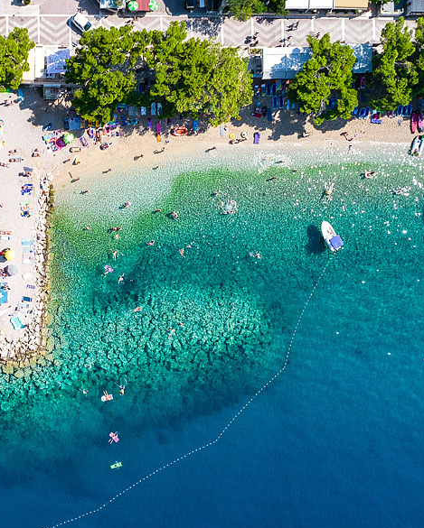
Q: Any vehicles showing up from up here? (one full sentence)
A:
Yes, the frame does contain a vehicle.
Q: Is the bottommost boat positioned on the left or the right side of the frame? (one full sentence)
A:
The bottommost boat sits on the right side.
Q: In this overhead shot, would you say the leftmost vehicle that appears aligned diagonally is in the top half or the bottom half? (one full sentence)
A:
The leftmost vehicle that appears aligned diagonally sits in the top half of the picture.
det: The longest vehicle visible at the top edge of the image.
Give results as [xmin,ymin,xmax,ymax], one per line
[68,4,93,34]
